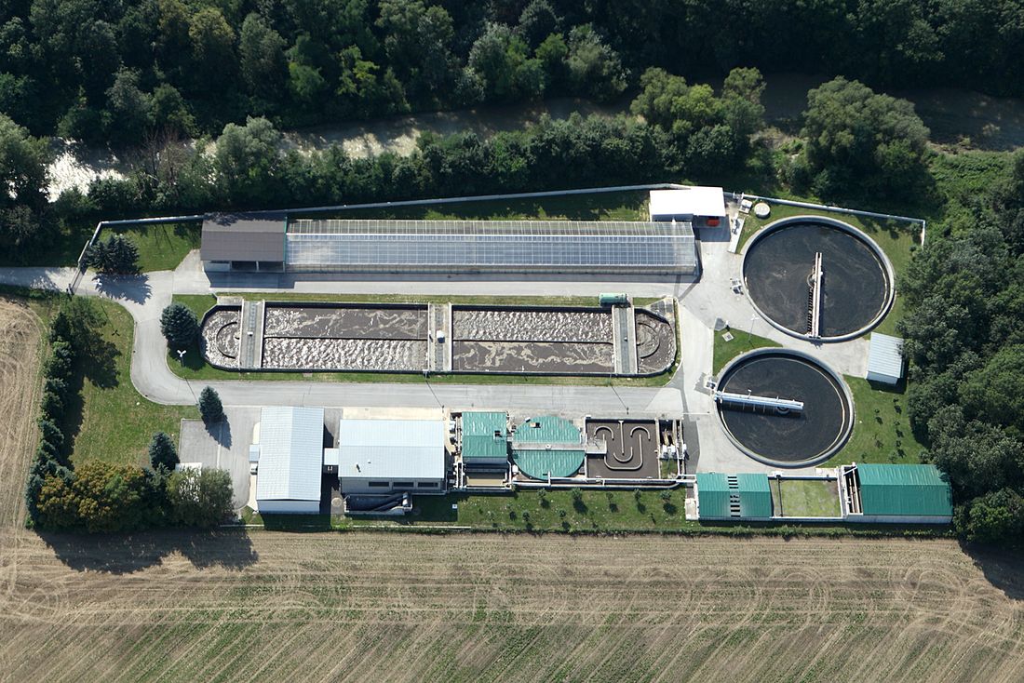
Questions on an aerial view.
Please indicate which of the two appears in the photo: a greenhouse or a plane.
greenhouse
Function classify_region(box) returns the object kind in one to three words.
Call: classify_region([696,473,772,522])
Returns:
house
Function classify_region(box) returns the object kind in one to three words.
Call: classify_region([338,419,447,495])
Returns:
house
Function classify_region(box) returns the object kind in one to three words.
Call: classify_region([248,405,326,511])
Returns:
building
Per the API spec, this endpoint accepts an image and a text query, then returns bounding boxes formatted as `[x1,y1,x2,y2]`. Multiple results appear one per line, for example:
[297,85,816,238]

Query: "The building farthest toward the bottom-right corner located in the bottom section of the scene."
[856,464,950,521]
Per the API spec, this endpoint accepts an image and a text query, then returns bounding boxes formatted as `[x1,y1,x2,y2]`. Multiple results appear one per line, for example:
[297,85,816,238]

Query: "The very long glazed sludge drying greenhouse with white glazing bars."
[288,220,697,275]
